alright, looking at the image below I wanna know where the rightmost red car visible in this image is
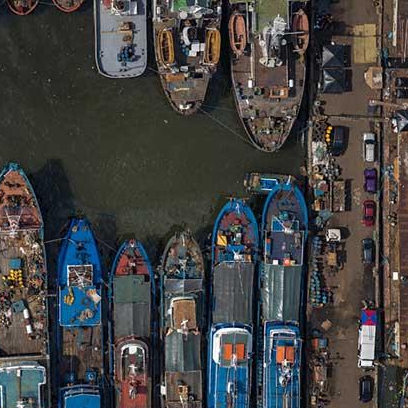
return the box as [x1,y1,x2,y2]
[363,200,376,226]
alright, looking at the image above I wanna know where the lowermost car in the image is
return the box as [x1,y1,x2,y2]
[359,376,374,403]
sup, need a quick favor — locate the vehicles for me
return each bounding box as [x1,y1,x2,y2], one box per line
[364,132,377,161]
[333,126,348,156]
[362,239,375,264]
[359,316,379,370]
[359,376,374,403]
[363,200,376,226]
[364,167,378,193]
